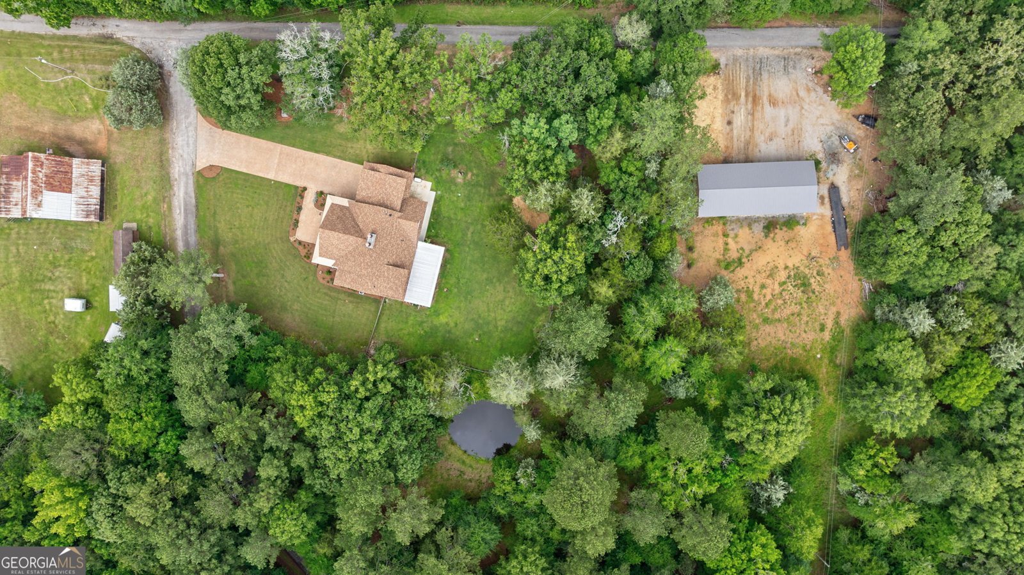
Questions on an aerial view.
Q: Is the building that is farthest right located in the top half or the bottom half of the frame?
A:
top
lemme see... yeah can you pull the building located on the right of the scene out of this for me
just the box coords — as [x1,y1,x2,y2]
[693,160,818,219]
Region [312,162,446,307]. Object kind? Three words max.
house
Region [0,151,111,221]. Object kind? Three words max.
barn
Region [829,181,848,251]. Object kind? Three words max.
trailer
